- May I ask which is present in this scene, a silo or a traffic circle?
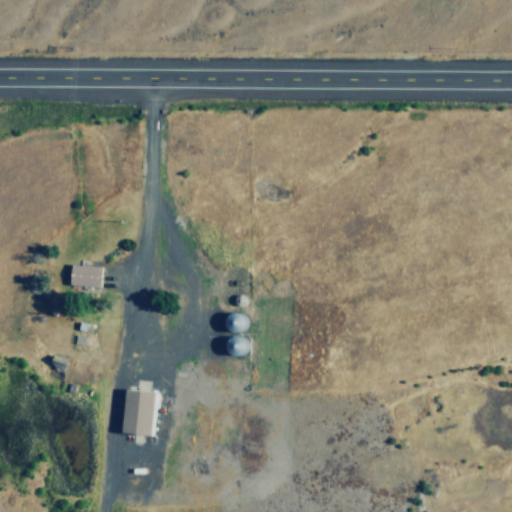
silo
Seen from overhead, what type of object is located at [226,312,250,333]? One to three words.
silo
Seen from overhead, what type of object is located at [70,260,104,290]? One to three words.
house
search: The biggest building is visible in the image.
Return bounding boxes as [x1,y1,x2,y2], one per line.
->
[124,390,164,436]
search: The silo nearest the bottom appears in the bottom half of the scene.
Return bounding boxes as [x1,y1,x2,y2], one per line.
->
[226,336,250,356]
